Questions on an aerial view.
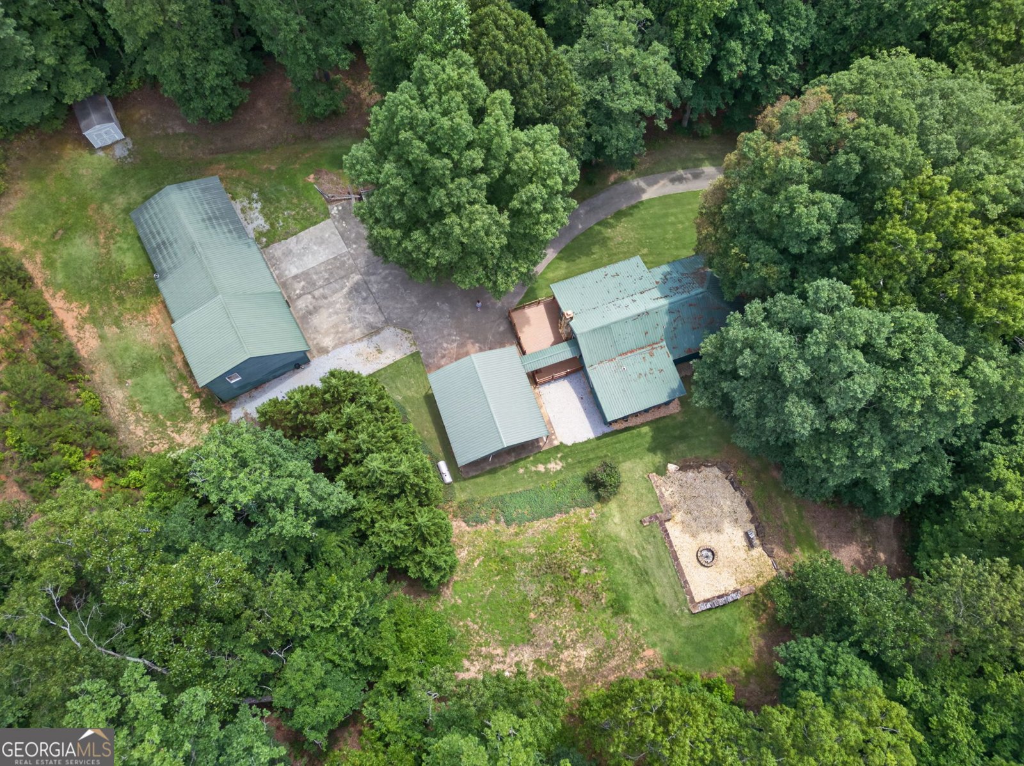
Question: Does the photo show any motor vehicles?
No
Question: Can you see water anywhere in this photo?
No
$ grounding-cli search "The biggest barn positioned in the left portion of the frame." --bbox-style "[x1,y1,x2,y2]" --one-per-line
[129,175,312,398]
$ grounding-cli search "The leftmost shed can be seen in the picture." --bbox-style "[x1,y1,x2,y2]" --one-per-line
[74,90,124,147]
